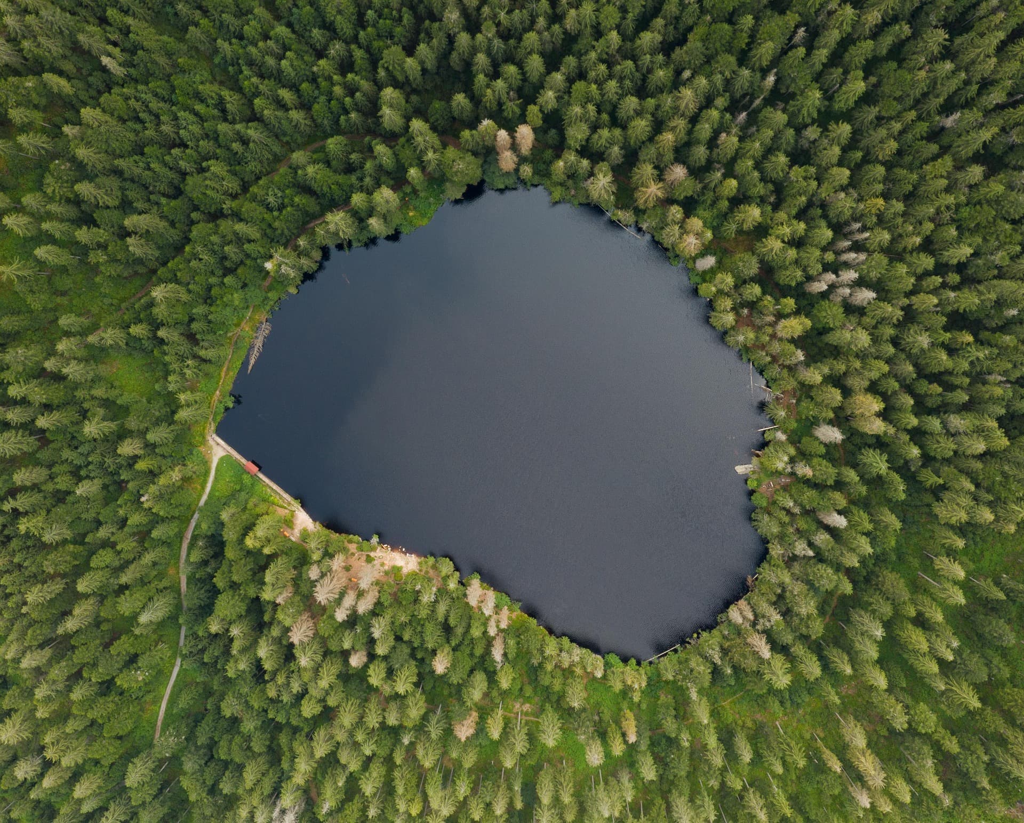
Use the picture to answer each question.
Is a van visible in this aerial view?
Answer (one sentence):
No, there isn't any van down there.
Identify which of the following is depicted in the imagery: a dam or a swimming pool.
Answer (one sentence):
The image shows a dam.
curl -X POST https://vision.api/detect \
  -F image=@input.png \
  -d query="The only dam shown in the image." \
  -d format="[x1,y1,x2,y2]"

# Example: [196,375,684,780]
[212,434,317,524]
